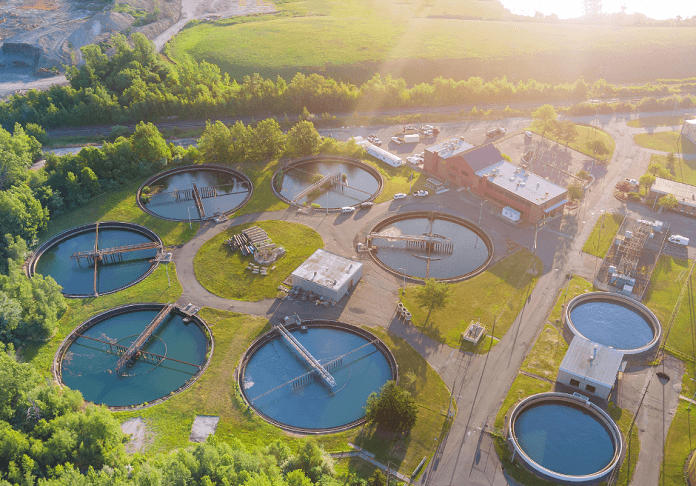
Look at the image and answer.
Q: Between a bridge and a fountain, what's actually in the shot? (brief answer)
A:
bridge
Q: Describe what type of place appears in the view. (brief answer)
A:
industrial area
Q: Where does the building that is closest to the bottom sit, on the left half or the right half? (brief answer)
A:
right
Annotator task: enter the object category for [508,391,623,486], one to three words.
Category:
storage tank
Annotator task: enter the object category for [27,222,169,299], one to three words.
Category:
storage tank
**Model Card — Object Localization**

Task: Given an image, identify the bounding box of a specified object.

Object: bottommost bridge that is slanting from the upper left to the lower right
[276,319,334,387]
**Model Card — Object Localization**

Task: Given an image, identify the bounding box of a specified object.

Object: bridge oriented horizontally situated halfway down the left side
[70,237,164,263]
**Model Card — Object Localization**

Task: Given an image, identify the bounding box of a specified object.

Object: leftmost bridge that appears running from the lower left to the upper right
[111,299,179,375]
